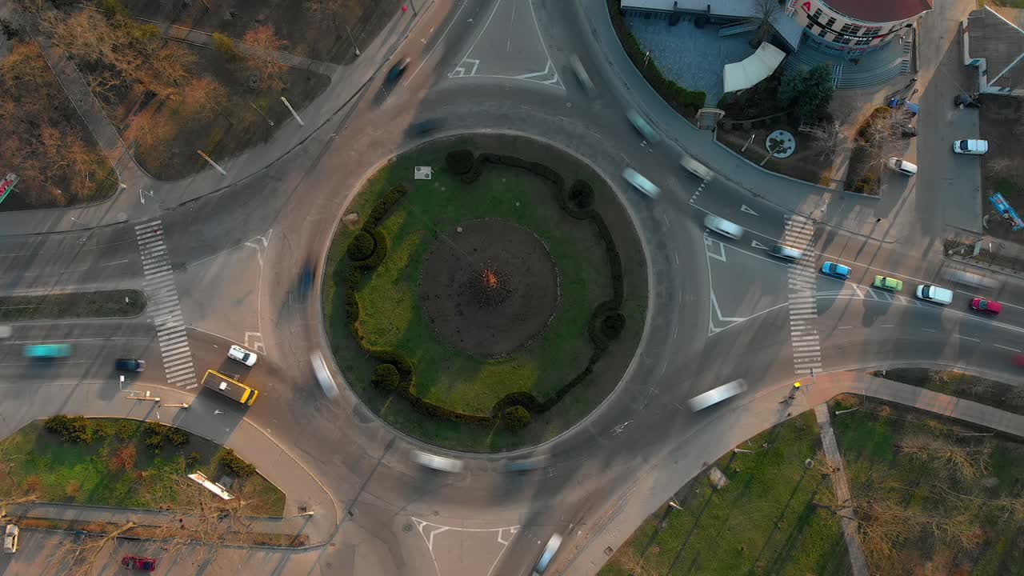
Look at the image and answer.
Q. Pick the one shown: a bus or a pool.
bus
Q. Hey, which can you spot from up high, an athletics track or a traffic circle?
traffic circle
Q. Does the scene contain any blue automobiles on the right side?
Yes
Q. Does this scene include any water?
No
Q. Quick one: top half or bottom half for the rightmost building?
top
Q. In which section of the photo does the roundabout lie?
center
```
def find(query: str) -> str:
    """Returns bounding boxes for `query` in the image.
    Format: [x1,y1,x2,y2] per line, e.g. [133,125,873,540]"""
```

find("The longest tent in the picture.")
[719,43,785,101]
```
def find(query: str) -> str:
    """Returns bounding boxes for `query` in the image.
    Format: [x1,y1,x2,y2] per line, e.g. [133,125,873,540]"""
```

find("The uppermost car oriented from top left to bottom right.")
[569,58,593,90]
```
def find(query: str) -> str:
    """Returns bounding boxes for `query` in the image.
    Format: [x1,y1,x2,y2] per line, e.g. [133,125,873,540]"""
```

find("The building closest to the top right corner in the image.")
[961,5,1024,101]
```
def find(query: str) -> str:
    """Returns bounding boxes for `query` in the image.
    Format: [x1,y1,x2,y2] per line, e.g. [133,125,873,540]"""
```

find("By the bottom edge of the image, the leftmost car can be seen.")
[2,522,22,555]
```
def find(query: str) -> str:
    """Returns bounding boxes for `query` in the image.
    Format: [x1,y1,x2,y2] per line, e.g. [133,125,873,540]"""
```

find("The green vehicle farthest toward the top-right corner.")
[870,275,905,292]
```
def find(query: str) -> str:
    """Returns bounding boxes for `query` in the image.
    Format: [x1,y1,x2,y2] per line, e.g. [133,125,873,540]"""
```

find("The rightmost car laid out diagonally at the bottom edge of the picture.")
[532,536,561,575]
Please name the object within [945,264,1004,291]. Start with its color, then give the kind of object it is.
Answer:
gray vehicle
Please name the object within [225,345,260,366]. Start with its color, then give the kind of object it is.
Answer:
white car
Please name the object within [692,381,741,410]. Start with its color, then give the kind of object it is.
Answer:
white vehicle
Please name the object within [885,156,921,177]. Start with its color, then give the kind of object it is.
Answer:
white car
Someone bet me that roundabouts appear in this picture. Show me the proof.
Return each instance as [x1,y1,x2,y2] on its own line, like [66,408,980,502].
[314,124,659,464]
